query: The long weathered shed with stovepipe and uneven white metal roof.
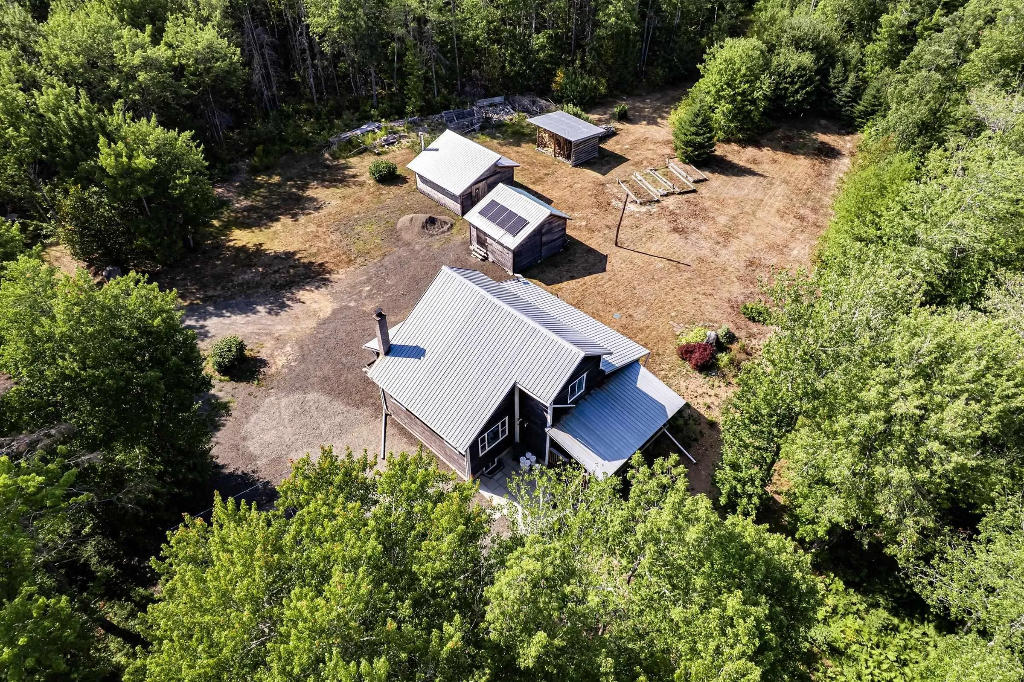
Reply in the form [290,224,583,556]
[406,130,521,215]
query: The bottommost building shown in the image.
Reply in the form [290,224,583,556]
[364,265,697,498]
